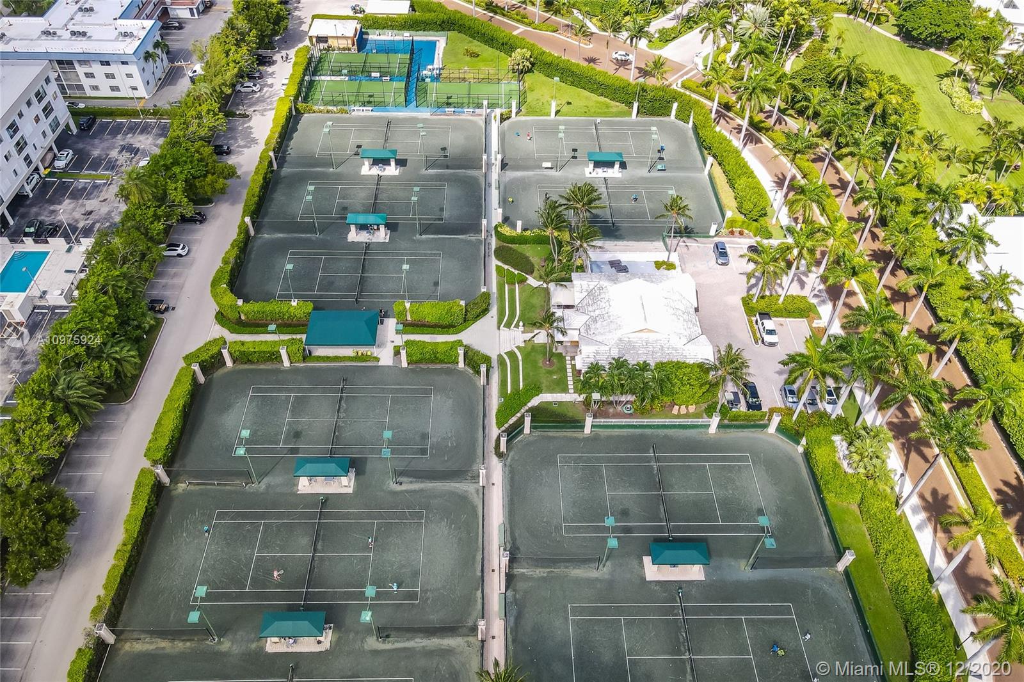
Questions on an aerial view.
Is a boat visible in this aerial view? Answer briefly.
No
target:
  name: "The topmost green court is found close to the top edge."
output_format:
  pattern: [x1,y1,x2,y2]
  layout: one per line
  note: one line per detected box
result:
[309,25,410,77]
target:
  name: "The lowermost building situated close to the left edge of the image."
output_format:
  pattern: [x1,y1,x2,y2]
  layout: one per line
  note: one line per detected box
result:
[0,293,34,323]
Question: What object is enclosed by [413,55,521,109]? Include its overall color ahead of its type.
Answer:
green sports court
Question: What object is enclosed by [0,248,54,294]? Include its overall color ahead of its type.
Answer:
blue swimming pool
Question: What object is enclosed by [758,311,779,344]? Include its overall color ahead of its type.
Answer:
white truck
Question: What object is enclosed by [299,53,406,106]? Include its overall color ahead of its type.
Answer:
green sports court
